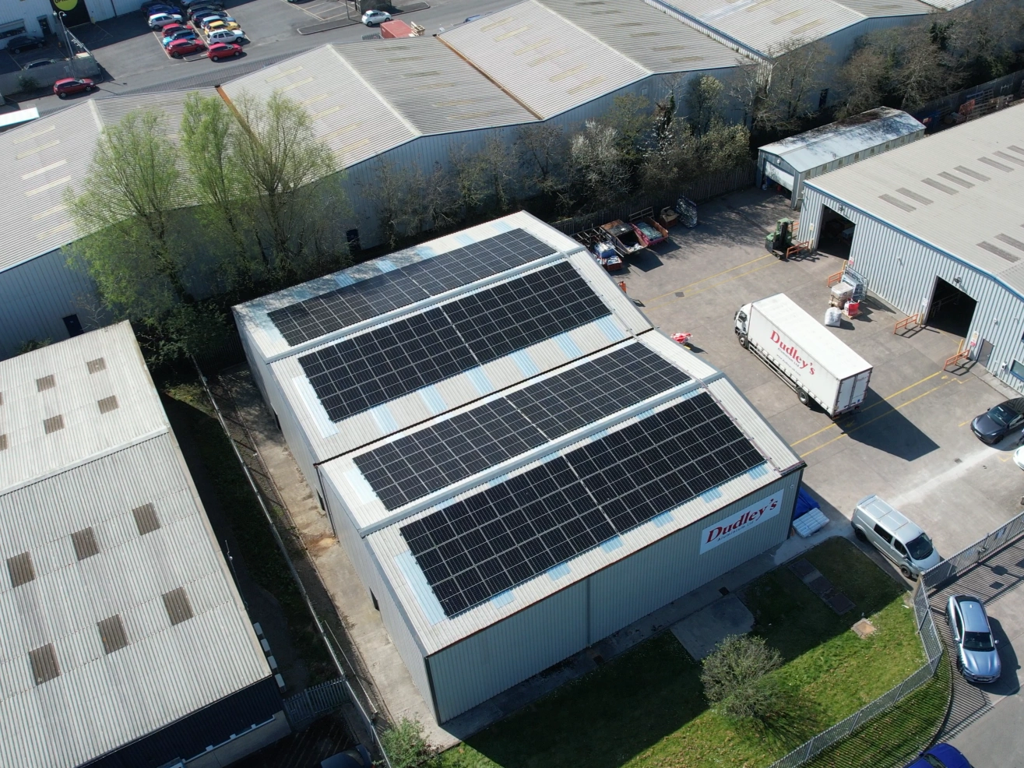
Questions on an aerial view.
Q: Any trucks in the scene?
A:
Yes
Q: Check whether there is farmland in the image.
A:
No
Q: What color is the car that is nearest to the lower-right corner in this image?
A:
blue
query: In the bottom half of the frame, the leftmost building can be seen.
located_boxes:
[0,320,291,768]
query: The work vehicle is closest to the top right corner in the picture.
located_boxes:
[758,215,799,258]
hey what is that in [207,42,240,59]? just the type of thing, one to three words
car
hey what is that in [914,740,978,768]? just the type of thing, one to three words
car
